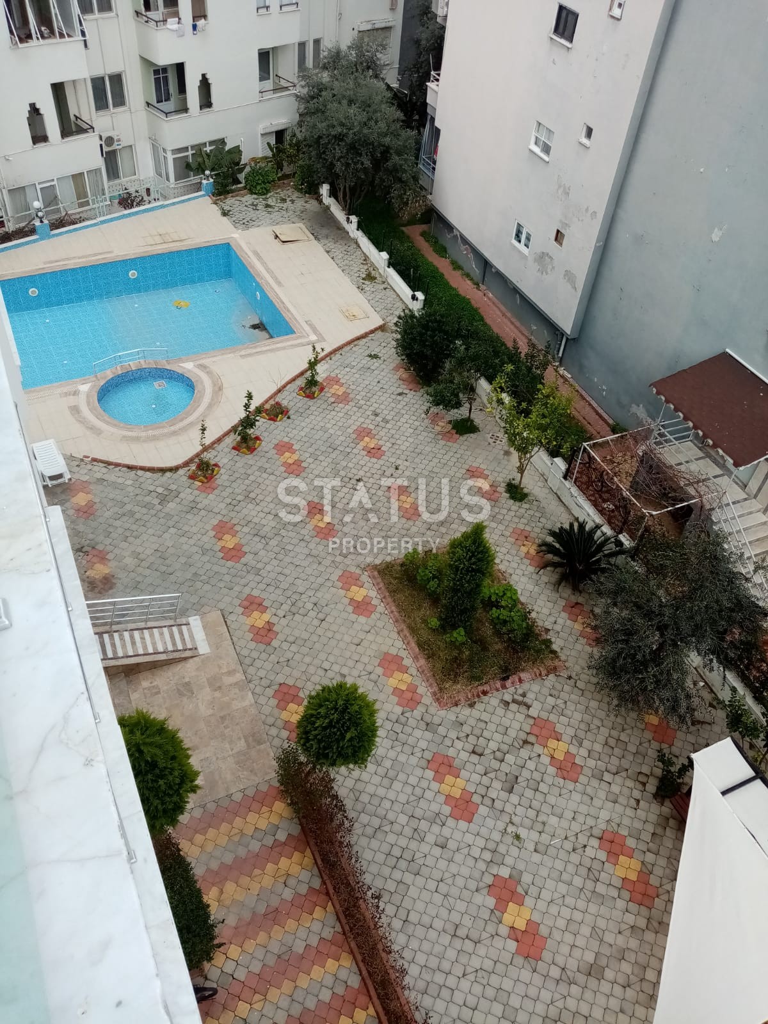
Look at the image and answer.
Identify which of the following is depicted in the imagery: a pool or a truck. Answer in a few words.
pool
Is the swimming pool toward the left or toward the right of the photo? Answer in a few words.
left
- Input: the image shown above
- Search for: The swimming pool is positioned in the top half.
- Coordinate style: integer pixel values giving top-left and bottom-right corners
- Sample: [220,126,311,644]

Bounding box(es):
[2,234,320,447]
